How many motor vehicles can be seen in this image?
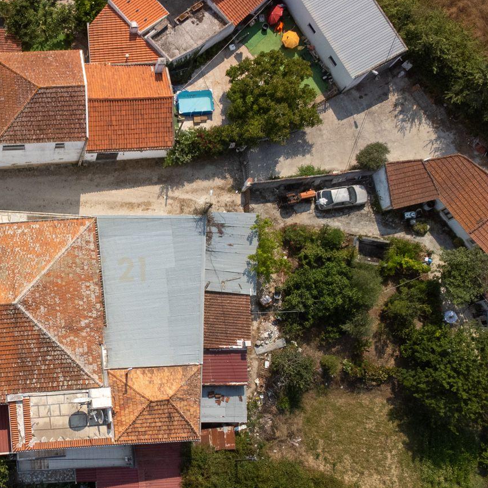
two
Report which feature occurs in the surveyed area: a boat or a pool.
pool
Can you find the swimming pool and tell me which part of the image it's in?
top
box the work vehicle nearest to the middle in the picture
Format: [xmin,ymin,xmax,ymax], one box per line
[279,188,316,209]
